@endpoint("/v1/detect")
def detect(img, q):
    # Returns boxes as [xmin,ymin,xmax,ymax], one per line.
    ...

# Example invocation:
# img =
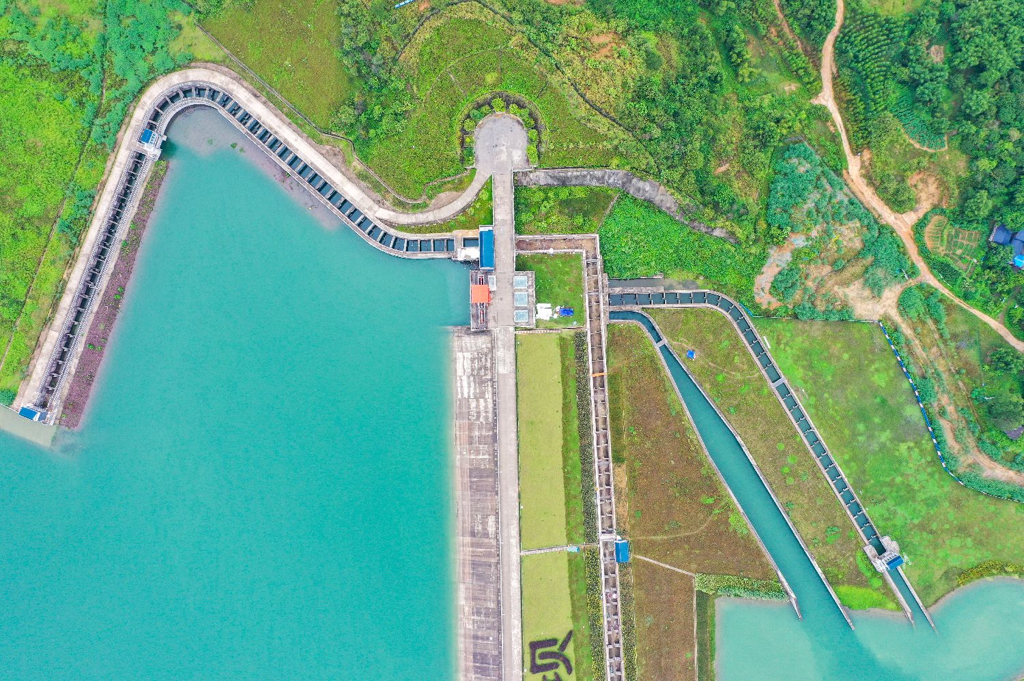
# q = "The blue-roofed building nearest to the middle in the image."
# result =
[479,225,494,272]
